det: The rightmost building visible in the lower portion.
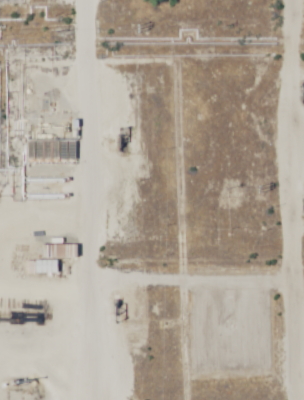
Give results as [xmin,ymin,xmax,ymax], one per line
[44,244,77,258]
